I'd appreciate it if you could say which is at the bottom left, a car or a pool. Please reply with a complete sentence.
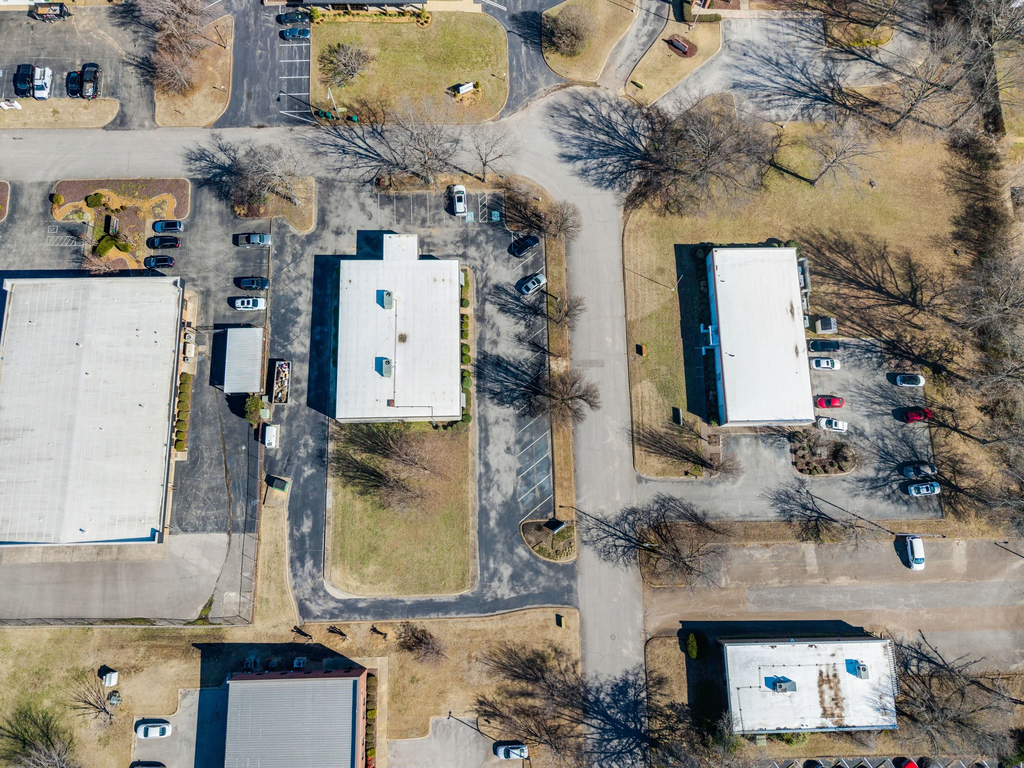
The one visible at the bottom left is a car.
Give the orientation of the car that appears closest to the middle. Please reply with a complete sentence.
I'd say the car that appears closest to the middle is aligned on a diagonal in the picture.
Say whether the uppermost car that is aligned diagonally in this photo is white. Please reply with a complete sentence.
No, from above the uppermost car that is aligned diagonally looks black.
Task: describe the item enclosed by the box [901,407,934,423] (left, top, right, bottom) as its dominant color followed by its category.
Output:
red car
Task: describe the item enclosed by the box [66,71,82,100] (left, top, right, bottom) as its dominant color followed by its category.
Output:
black car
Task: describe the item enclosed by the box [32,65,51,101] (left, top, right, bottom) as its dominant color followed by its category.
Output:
white vehicle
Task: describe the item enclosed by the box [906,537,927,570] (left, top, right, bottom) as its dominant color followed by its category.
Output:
white vehicle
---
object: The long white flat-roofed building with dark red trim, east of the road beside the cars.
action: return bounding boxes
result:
[691,248,815,423]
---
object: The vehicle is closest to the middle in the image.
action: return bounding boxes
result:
[520,274,547,296]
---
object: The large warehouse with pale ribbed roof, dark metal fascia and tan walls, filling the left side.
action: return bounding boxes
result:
[0,277,188,545]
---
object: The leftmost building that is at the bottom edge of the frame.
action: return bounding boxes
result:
[224,670,367,768]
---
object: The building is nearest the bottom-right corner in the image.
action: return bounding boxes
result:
[718,634,902,733]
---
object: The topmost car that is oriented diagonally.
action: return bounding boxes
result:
[513,236,540,259]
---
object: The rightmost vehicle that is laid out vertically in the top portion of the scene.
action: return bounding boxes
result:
[453,187,467,216]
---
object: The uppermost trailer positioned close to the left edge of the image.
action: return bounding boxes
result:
[28,2,72,22]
